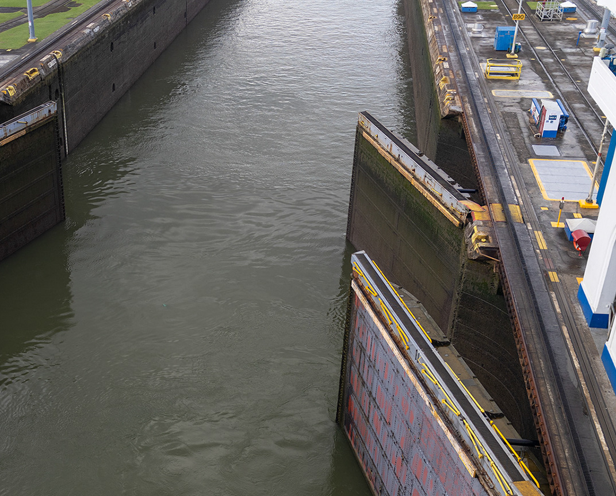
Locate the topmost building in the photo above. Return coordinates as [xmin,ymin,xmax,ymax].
[492,24,520,49]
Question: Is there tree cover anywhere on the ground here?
No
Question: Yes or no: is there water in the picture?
Yes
